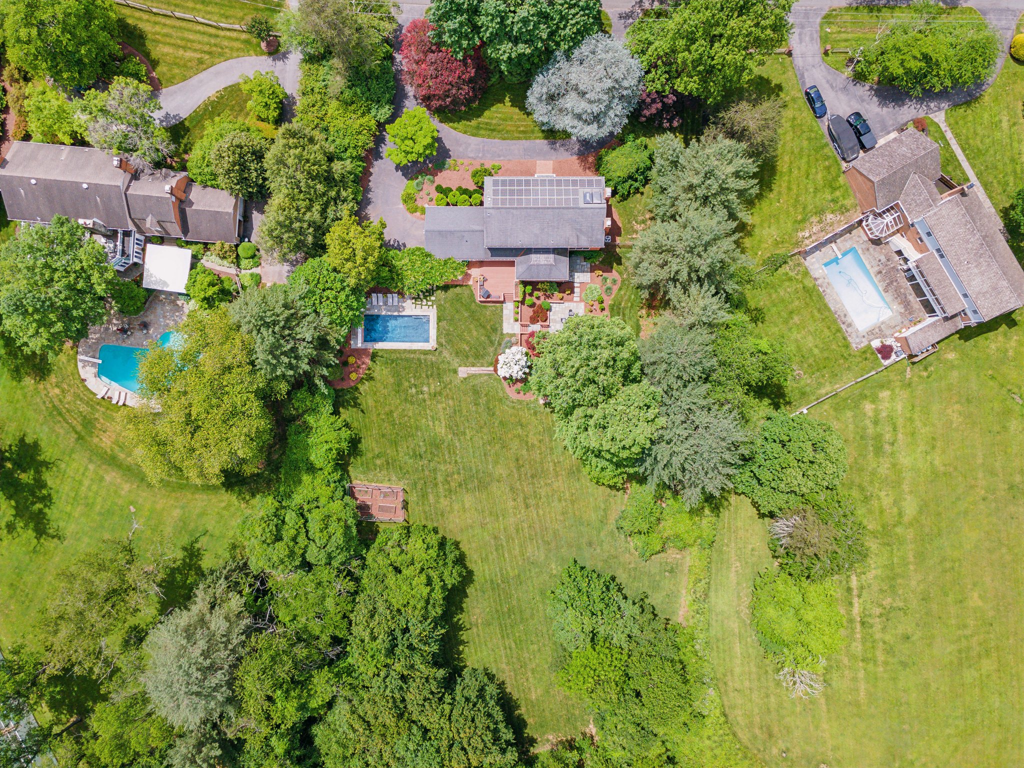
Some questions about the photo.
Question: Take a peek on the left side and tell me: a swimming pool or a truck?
swimming pool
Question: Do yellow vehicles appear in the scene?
No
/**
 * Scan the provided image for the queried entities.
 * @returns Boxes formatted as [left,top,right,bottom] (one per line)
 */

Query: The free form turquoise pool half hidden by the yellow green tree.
[97,330,204,403]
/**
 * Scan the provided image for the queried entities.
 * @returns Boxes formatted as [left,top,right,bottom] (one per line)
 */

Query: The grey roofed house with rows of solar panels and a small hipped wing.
[425,174,611,281]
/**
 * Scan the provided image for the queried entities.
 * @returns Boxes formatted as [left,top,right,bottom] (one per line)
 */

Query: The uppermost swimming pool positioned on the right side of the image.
[819,243,896,336]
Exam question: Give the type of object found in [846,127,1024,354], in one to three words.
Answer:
house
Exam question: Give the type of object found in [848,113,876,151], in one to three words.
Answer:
truck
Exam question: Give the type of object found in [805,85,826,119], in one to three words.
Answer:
car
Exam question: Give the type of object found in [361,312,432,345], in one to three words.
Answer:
swimming pool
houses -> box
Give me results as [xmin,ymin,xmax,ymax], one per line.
[425,174,611,281]
[0,141,246,245]
[846,127,1024,354]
